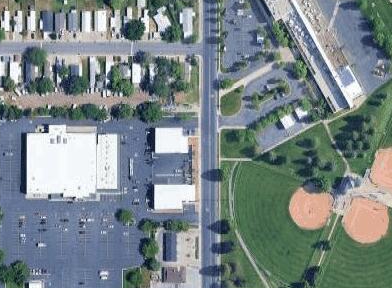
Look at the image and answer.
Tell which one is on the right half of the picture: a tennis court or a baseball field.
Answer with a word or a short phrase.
baseball field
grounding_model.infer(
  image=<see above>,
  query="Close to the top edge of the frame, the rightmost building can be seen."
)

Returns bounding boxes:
[266,0,366,115]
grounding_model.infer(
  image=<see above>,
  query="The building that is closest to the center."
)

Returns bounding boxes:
[154,128,189,153]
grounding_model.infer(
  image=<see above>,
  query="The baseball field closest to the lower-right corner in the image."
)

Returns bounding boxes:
[314,196,392,288]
